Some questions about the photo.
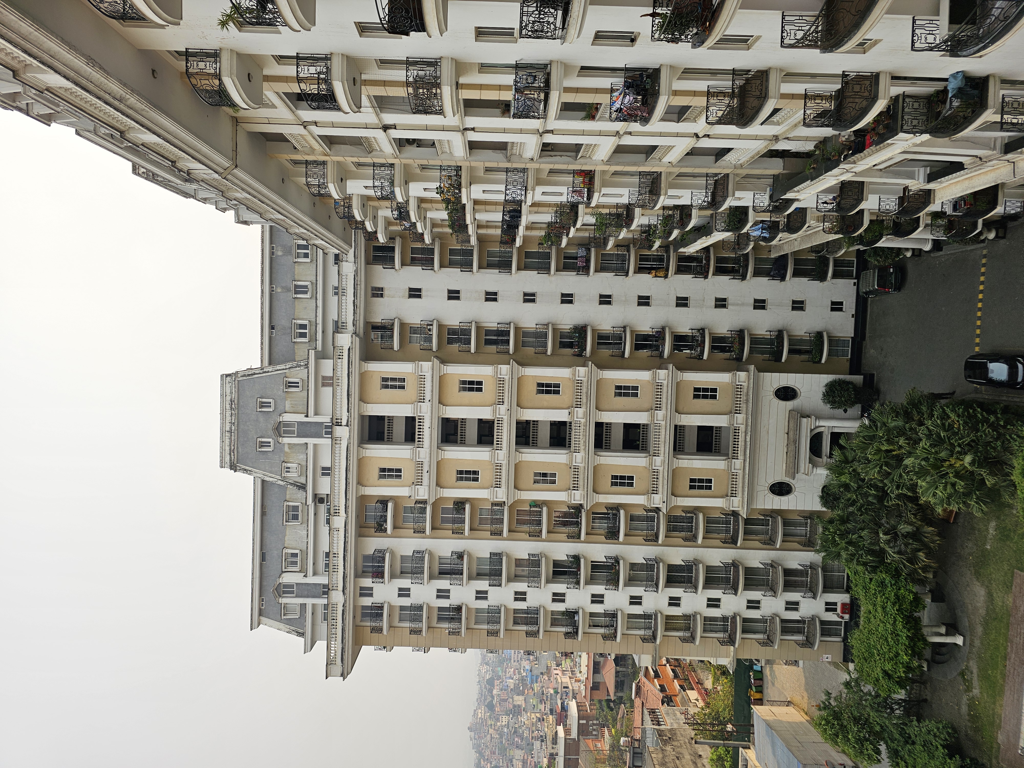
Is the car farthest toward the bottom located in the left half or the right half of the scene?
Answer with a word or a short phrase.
right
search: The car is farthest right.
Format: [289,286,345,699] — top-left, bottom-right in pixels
[964,352,1024,392]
